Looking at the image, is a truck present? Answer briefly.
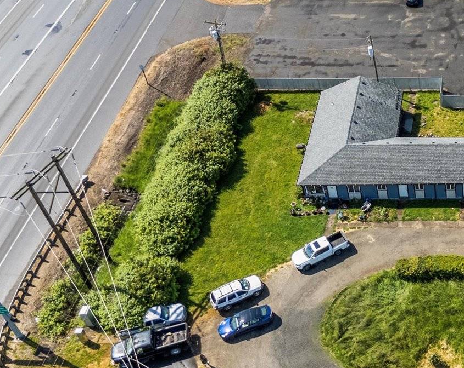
Yes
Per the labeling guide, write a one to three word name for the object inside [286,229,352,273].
truck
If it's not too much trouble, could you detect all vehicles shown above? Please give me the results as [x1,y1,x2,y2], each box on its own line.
[286,229,352,273]
[108,322,186,368]
[130,298,193,330]
[405,0,419,8]
[216,301,279,342]
[207,271,267,314]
